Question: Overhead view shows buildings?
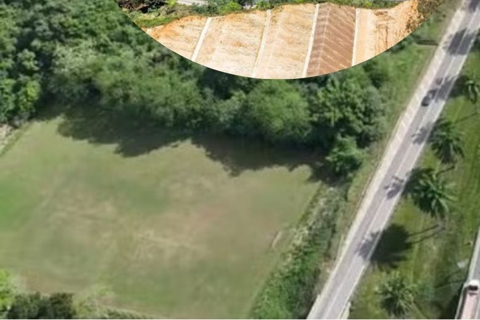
No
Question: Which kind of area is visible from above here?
sports ground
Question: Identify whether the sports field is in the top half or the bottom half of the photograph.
bottom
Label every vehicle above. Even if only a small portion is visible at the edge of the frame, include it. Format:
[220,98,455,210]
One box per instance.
[423,90,435,105]
[460,278,480,320]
